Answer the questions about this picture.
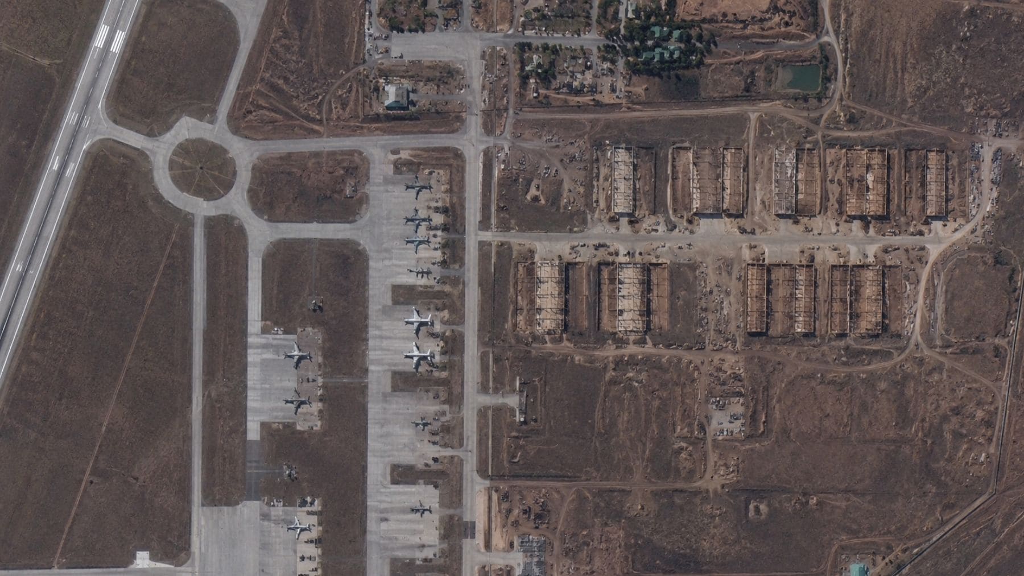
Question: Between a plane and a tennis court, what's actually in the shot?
plane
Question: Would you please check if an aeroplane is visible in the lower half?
Yes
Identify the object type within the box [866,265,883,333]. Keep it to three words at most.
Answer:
hangar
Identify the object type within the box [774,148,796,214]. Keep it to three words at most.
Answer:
hangar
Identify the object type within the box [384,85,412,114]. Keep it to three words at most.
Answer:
building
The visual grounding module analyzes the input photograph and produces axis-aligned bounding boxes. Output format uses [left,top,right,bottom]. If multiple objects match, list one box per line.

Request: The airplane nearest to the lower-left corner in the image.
[287,516,312,539]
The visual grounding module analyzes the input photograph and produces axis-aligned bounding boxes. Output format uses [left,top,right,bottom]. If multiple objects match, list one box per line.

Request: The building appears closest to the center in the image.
[536,262,565,335]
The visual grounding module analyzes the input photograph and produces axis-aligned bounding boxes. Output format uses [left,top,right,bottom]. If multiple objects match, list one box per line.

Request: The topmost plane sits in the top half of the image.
[405,174,433,199]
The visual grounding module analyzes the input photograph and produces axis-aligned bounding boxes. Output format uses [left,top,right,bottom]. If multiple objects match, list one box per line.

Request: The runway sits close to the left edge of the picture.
[0,0,141,386]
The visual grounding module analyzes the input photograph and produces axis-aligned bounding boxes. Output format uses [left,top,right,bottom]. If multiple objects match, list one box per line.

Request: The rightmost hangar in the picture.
[925,149,946,216]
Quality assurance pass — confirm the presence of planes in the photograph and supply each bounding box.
[405,174,433,199]
[404,342,430,369]
[283,387,312,414]
[412,416,430,431]
[404,229,431,253]
[410,501,432,518]
[408,266,432,278]
[287,516,312,539]
[404,207,432,230]
[284,341,310,368]
[404,307,430,334]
